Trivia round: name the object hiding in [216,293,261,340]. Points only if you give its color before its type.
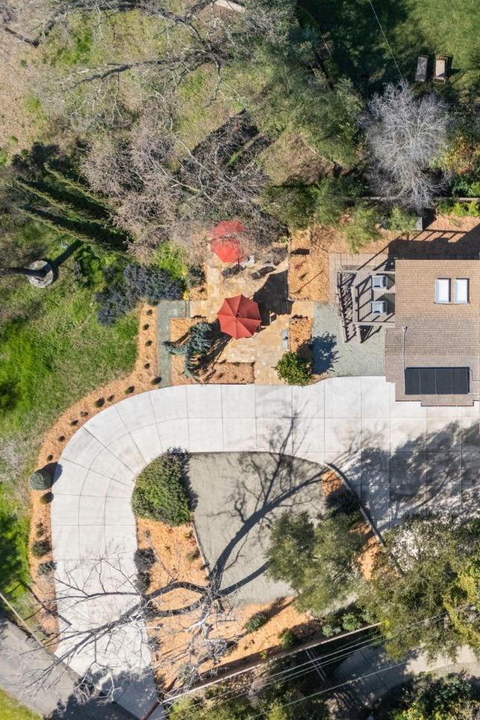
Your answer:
red umbrella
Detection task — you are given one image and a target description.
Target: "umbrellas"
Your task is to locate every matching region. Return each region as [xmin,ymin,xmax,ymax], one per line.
[216,293,261,340]
[208,222,245,261]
